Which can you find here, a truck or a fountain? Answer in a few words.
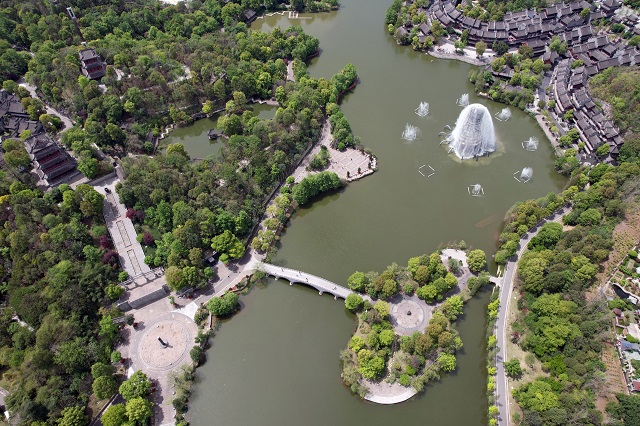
fountain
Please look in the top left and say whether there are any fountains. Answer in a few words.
No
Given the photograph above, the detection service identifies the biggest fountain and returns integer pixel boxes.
[440,102,512,169]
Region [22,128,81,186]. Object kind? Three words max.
building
